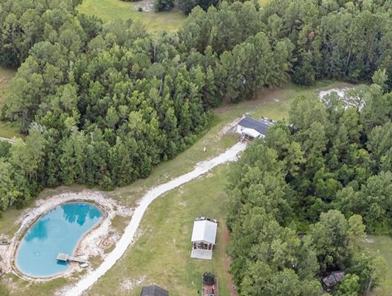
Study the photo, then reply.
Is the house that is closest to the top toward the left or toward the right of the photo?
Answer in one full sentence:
The house that is closest to the top appears in the right half of the scene.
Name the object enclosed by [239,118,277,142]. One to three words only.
house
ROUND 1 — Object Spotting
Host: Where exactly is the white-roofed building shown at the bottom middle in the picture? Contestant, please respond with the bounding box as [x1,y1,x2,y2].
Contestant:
[190,219,220,260]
